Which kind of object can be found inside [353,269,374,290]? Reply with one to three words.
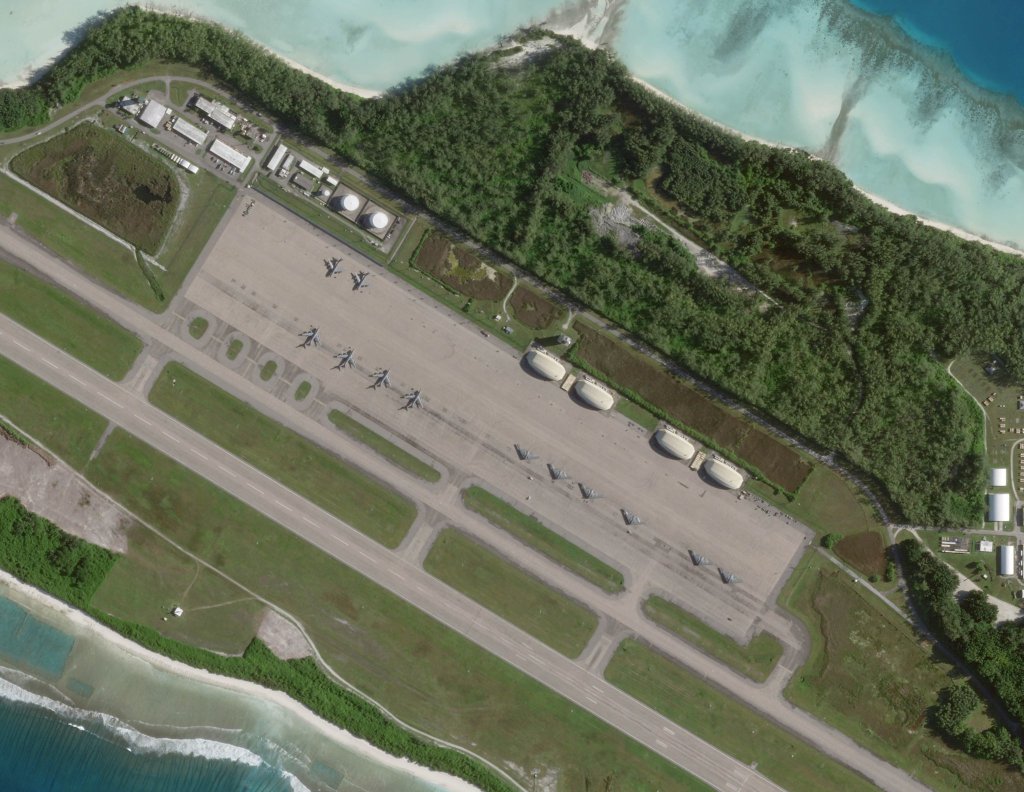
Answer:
airplane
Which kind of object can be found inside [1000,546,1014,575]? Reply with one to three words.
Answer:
building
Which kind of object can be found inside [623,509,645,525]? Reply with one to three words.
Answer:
airplane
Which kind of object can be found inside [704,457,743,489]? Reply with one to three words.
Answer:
hangar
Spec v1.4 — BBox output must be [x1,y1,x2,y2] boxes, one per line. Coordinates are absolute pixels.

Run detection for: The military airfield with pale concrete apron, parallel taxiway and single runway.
[0,187,938,792]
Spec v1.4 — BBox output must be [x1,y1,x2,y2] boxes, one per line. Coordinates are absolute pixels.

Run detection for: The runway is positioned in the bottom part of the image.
[0,313,787,792]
